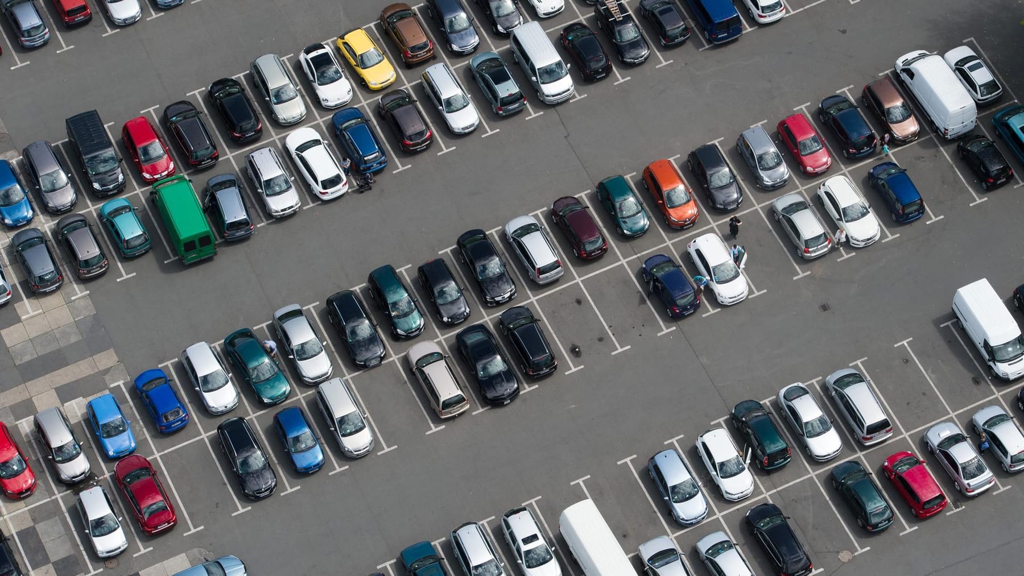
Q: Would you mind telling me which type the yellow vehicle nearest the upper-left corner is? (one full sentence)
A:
It looks like the yellow vehicle nearest the upper-left corner is a car.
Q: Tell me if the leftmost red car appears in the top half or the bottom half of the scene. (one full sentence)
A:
It is in the bottom half that the leftmost red car appears.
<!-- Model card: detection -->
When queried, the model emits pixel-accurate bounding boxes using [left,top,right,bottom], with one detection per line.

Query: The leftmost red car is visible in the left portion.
[0,427,33,501]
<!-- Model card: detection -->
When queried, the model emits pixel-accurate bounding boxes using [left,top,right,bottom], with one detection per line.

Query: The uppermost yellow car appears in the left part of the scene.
[338,29,395,93]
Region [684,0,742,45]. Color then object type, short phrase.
blue vehicle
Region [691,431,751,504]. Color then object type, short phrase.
white car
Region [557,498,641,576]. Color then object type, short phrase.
white van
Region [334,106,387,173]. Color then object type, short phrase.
blue car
